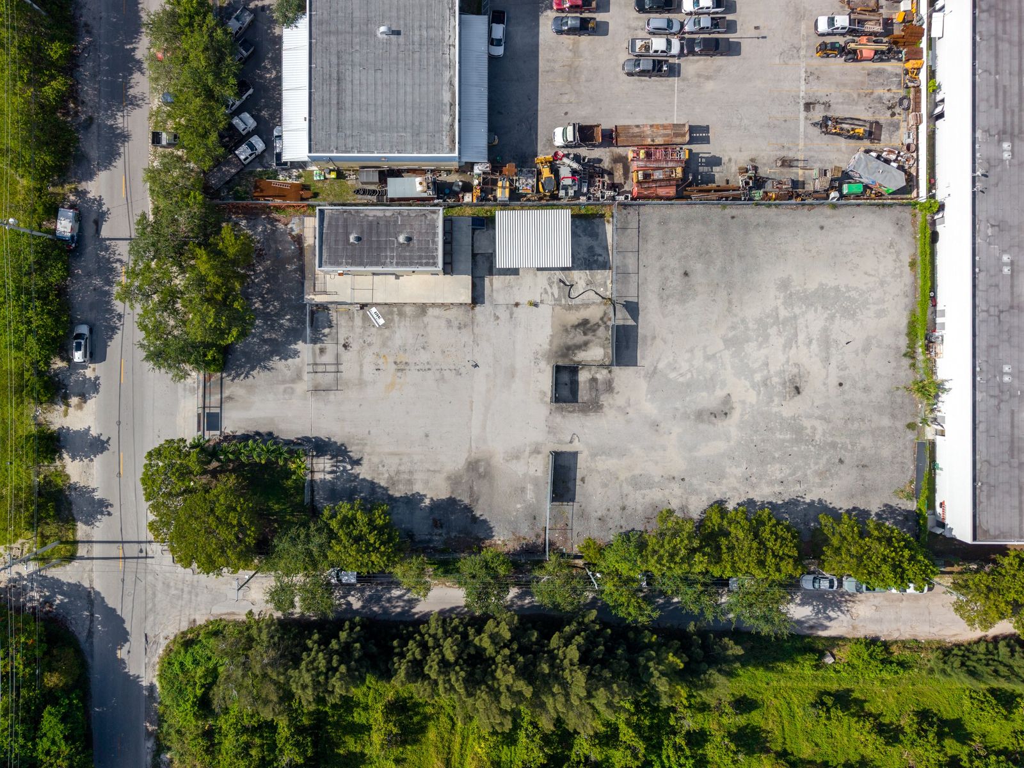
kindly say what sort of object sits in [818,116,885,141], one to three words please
trailer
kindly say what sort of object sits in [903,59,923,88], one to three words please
vehicle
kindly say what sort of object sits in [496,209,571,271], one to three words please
shed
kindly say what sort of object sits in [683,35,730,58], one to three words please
truck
